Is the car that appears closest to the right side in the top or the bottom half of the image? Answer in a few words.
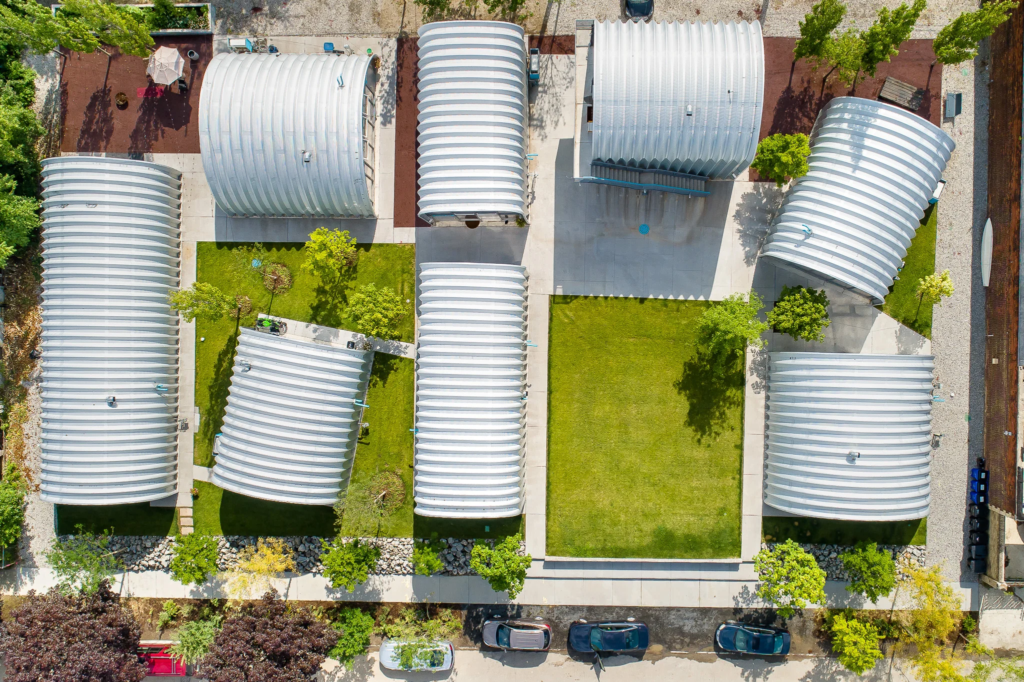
bottom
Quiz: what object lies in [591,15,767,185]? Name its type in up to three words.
shed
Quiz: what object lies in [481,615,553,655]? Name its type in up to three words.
car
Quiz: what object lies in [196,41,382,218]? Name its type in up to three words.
shed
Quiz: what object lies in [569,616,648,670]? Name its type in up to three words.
car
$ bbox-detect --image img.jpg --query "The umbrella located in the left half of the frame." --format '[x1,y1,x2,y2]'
[149,45,183,86]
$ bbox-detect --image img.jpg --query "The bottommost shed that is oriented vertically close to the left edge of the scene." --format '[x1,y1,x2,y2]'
[40,156,184,507]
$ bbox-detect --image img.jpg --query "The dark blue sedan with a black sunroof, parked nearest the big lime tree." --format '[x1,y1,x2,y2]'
[713,617,791,657]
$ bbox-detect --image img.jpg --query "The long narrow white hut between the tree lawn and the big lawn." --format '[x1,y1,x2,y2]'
[407,262,539,521]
